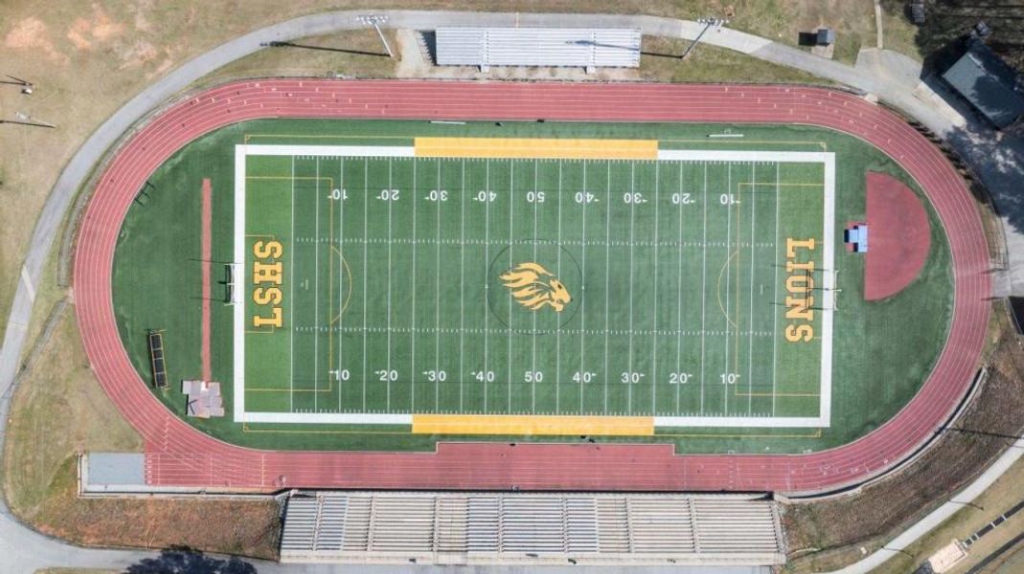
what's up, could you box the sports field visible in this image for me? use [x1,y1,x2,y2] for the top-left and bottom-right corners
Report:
[113,116,954,456]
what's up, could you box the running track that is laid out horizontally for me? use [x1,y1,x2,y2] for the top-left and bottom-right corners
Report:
[74,77,993,494]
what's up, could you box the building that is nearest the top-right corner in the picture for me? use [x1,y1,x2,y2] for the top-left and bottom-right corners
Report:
[941,38,1024,127]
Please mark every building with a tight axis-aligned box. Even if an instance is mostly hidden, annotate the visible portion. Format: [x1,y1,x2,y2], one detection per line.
[941,38,1024,127]
[812,28,830,46]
